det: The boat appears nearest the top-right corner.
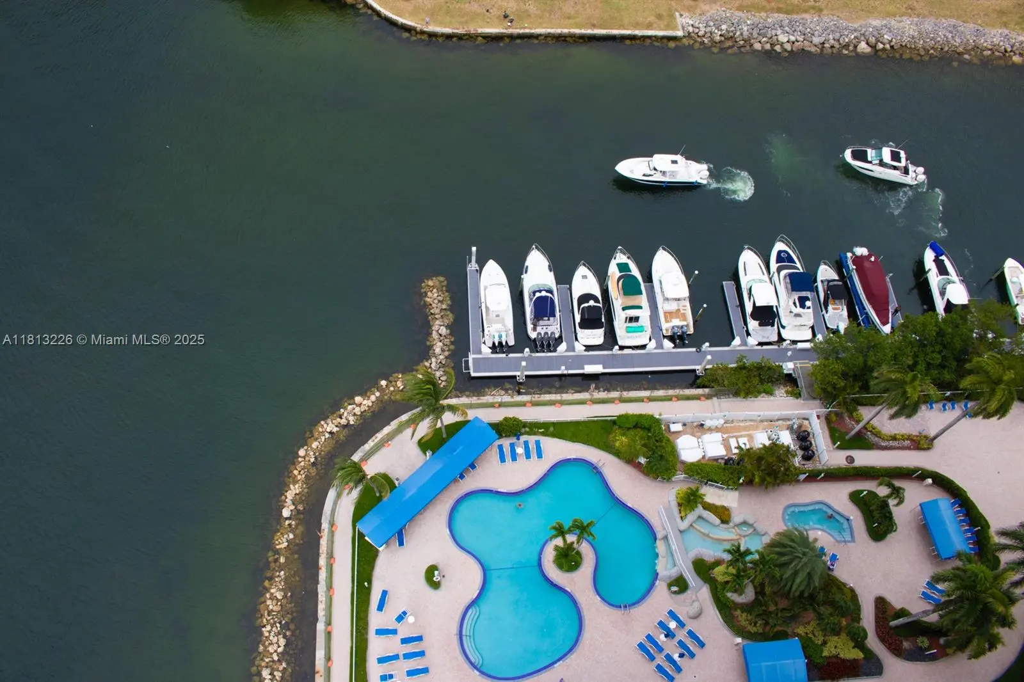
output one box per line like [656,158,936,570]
[844,143,928,192]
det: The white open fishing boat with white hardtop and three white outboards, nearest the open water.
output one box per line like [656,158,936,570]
[478,260,517,350]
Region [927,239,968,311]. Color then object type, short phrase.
white boat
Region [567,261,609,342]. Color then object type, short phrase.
white boat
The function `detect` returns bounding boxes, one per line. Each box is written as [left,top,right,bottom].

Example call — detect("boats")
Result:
[767,235,812,339]
[1002,258,1024,329]
[736,244,782,340]
[478,260,517,350]
[615,138,713,189]
[927,239,968,311]
[605,244,654,347]
[567,261,609,342]
[522,243,562,346]
[651,244,695,343]
[844,143,928,192]
[815,263,847,329]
